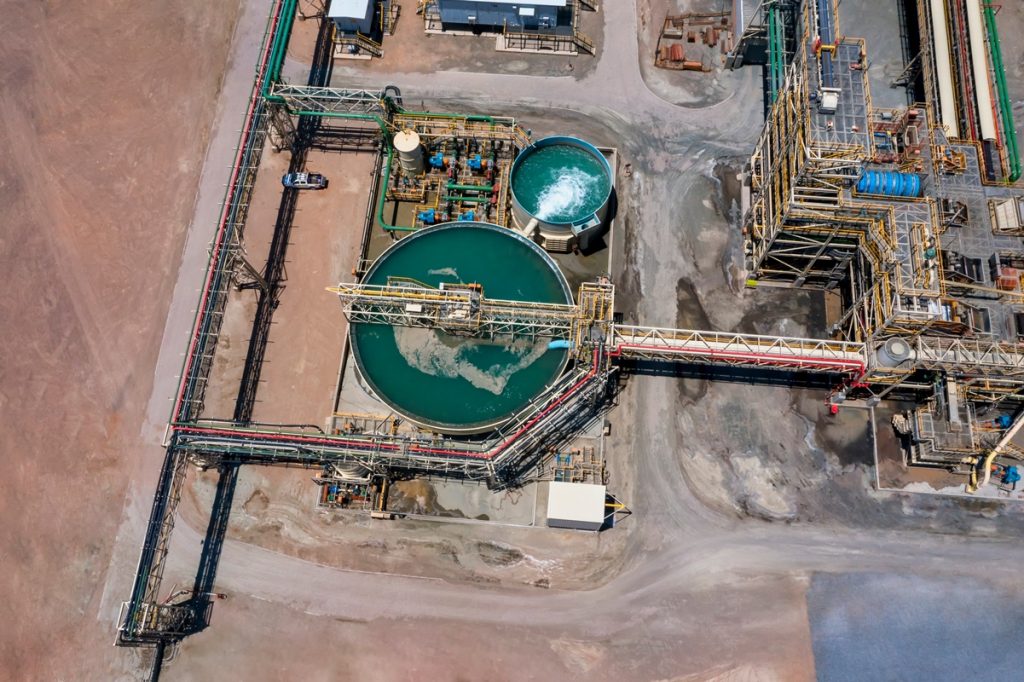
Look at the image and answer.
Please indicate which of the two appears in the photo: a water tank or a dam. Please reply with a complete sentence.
The image shows a water tank.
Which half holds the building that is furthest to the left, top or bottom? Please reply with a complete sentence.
It is in the top half that the building that is furthest to the left appears.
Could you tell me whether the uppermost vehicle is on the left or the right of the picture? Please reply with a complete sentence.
It is on the left.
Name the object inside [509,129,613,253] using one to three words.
water tank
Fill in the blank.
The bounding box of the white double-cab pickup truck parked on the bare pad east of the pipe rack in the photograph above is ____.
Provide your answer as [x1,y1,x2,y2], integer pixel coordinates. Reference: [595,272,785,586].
[281,170,326,190]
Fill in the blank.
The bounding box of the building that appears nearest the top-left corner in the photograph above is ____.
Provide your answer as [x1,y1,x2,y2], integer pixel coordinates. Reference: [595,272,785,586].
[326,0,381,60]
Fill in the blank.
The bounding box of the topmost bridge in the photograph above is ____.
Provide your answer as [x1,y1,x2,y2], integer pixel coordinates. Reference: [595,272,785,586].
[271,85,404,163]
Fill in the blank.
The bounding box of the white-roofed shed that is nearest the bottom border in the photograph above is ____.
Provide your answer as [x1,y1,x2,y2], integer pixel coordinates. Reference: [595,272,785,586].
[542,481,625,536]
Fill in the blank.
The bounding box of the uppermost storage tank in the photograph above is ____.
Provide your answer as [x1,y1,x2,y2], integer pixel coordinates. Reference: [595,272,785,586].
[395,130,426,180]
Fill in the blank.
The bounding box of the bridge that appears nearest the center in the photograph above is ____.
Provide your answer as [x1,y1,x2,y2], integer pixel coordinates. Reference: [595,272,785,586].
[324,274,577,341]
